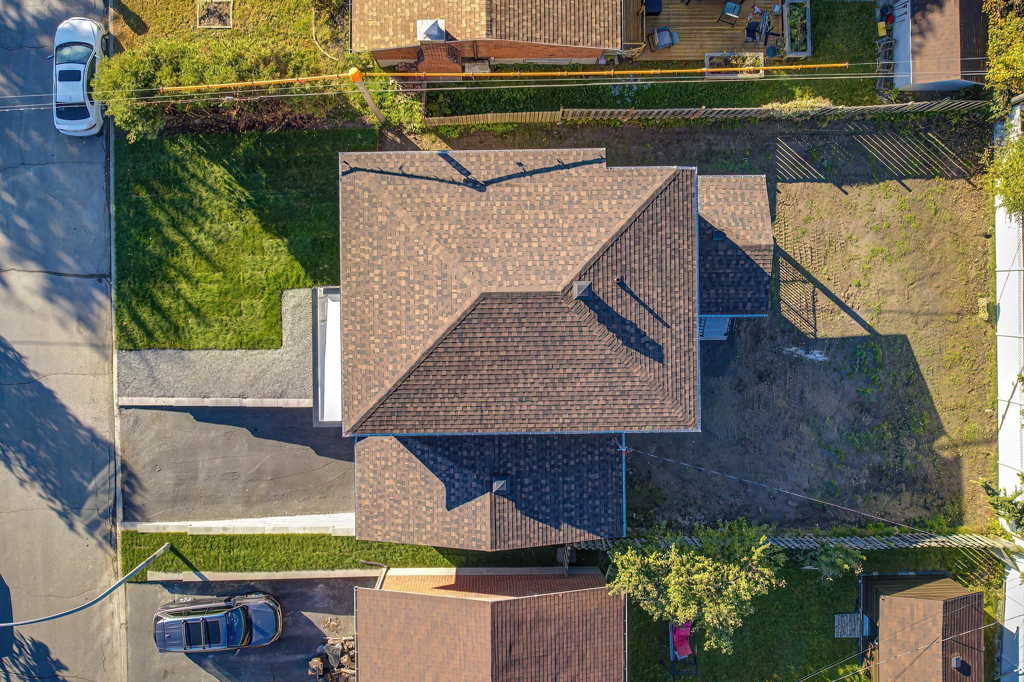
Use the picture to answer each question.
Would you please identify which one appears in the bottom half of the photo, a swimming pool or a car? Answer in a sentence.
You can see a car in the bottom half of the photo.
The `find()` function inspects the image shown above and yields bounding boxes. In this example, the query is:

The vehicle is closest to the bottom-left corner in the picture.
[155,593,287,657]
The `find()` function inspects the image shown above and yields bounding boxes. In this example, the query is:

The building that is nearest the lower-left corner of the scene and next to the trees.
[353,559,628,682]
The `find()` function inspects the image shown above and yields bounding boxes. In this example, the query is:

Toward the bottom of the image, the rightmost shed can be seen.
[852,572,983,682]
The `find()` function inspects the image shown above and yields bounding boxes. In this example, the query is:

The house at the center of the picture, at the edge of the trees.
[312,146,774,548]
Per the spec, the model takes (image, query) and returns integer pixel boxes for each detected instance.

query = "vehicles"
[44,18,106,138]
[155,593,287,657]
